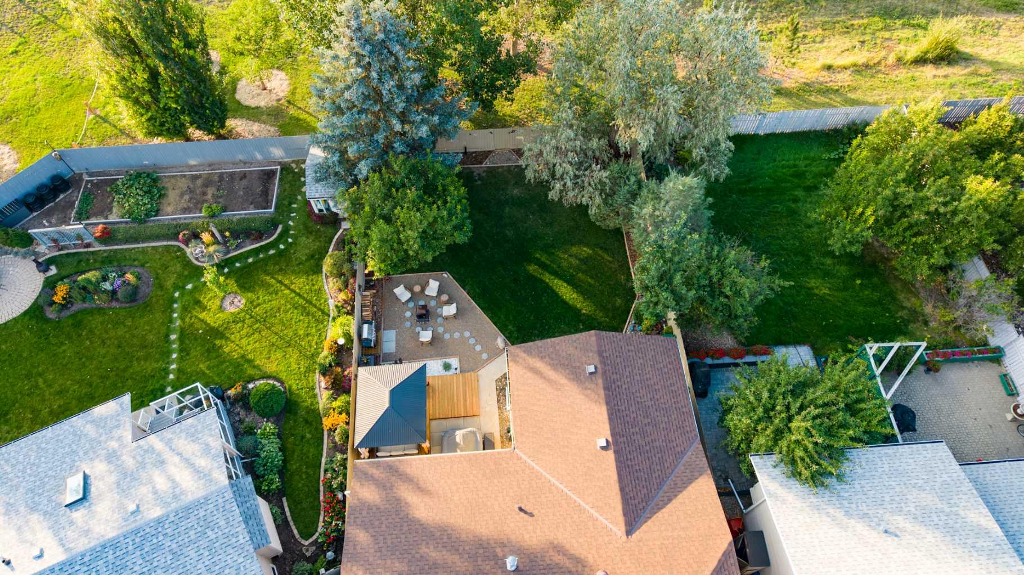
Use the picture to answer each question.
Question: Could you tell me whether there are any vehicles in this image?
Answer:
No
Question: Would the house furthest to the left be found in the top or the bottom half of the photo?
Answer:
bottom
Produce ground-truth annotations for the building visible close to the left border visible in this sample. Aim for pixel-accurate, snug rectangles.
[0,390,294,575]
